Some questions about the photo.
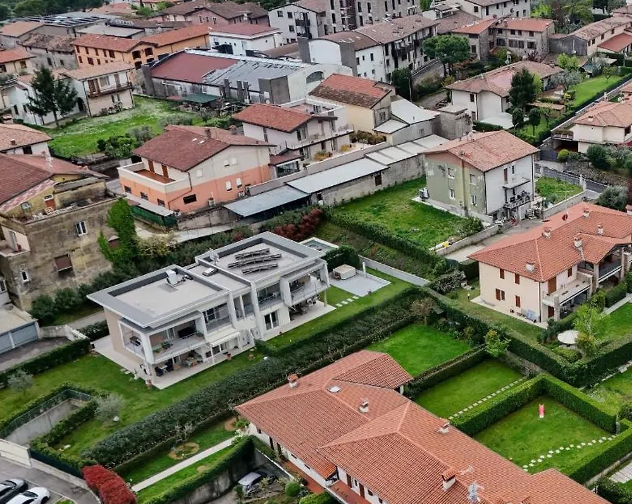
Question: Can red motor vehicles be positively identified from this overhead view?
No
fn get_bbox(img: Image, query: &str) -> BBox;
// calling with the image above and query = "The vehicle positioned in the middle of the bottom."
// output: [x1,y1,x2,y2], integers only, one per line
[230,466,280,502]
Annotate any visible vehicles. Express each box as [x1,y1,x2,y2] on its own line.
[0,478,30,504]
[6,491,50,504]
[230,466,280,502]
